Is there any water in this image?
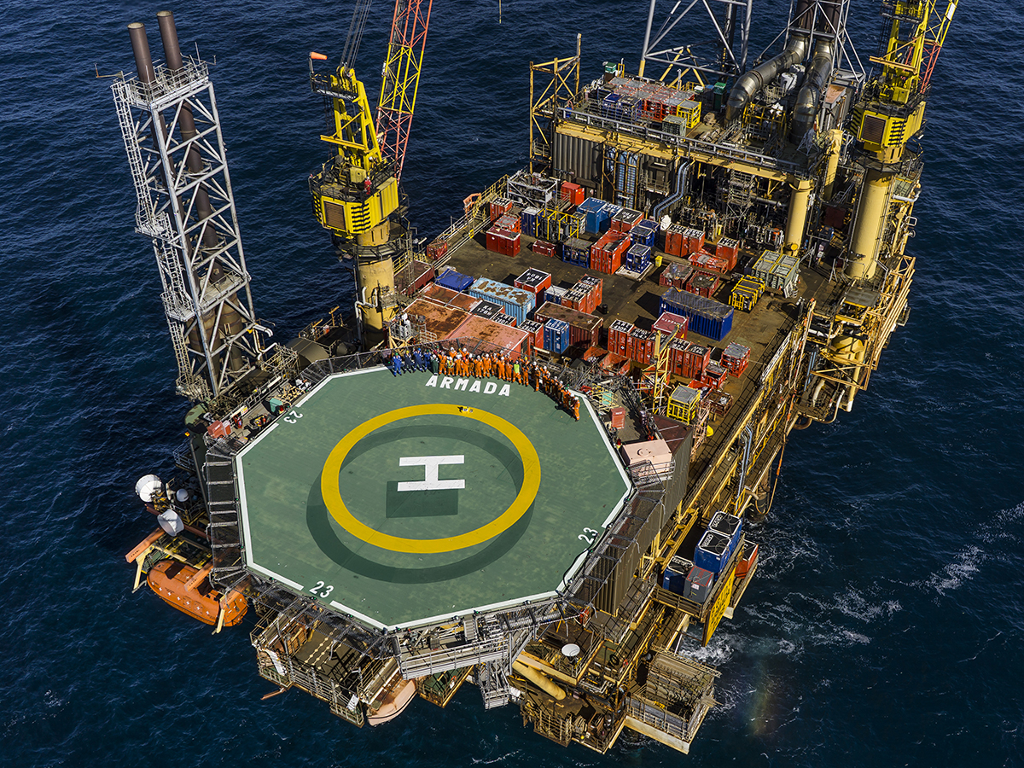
Yes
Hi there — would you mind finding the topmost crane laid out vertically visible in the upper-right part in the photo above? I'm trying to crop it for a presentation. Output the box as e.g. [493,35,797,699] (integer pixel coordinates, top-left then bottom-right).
[843,0,948,272]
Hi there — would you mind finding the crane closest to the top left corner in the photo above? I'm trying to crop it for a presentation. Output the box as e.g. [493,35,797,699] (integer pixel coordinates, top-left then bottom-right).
[304,0,434,337]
